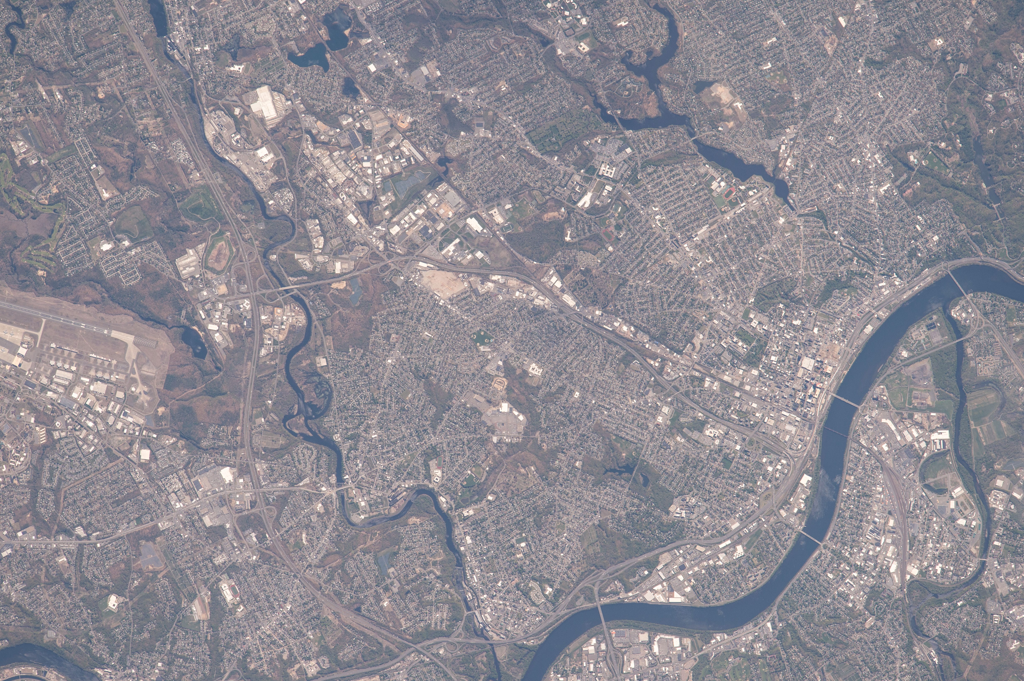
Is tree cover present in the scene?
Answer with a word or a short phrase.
Yes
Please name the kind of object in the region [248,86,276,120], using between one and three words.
shed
